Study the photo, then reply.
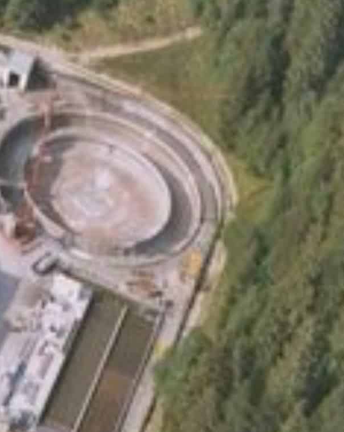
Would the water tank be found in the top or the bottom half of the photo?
bottom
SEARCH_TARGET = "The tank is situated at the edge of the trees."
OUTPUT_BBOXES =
[43,277,169,432]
